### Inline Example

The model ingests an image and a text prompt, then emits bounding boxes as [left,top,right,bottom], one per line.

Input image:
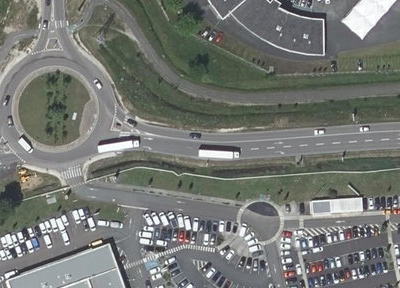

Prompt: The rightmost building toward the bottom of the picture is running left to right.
[310,197,364,215]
